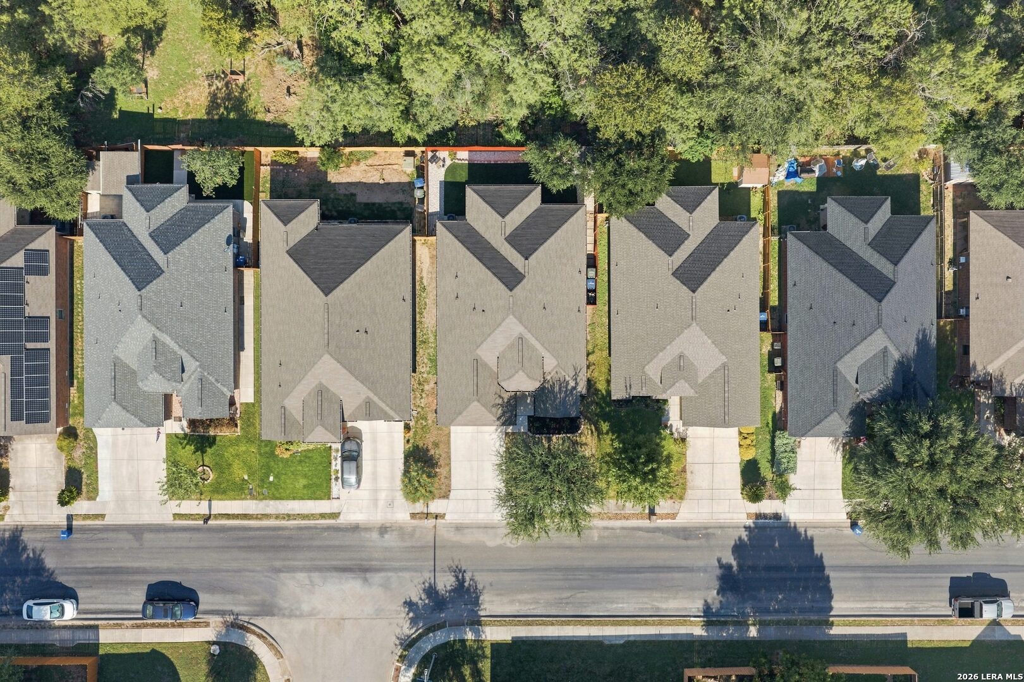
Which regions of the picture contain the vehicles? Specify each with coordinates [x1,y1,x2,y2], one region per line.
[25,597,82,623]
[946,594,1011,623]
[144,598,201,623]
[338,437,364,490]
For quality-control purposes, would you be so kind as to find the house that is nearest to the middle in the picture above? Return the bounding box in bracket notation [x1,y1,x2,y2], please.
[436,184,587,427]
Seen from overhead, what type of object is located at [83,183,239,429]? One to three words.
house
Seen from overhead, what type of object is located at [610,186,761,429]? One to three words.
house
